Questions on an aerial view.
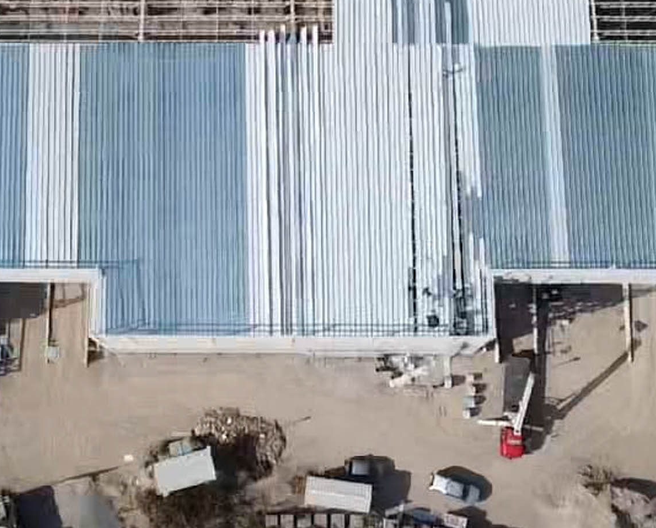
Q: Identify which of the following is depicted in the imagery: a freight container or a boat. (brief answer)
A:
freight container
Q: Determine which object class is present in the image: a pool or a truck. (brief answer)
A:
truck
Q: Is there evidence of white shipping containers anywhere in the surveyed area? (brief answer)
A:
Yes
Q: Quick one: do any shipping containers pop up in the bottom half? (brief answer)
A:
Yes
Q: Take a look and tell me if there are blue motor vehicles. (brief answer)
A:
No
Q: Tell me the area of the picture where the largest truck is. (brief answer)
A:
bottom right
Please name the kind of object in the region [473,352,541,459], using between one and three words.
truck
